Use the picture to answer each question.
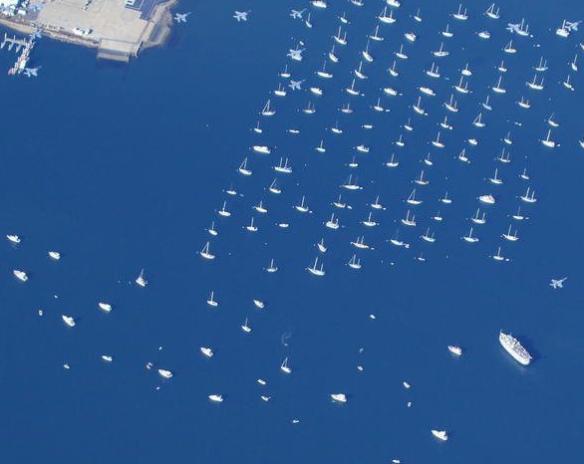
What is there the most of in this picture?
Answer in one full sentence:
For the most part, this view shows water.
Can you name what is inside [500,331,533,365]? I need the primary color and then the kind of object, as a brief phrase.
white ship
